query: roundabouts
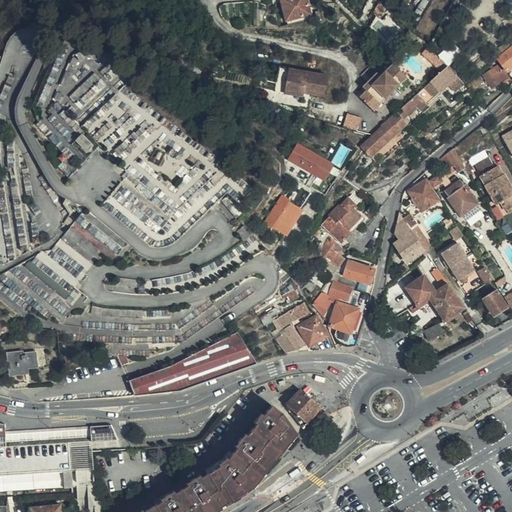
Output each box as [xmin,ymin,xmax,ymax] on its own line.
[349,366,425,442]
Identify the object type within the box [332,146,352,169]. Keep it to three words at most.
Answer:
swimming pool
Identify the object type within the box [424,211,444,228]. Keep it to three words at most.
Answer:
swimming pool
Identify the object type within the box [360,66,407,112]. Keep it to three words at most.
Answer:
house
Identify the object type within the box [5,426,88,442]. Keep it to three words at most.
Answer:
building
